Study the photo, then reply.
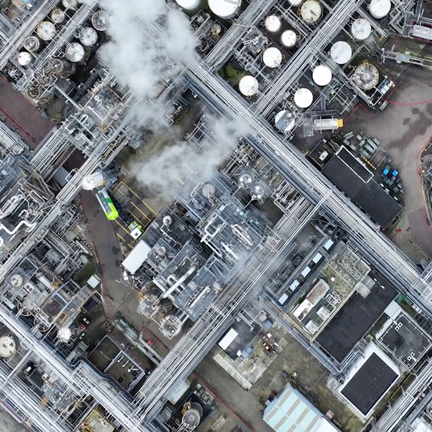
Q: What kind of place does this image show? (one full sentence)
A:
This image shows an industrial area.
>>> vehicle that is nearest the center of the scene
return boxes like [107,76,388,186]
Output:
[116,205,144,241]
